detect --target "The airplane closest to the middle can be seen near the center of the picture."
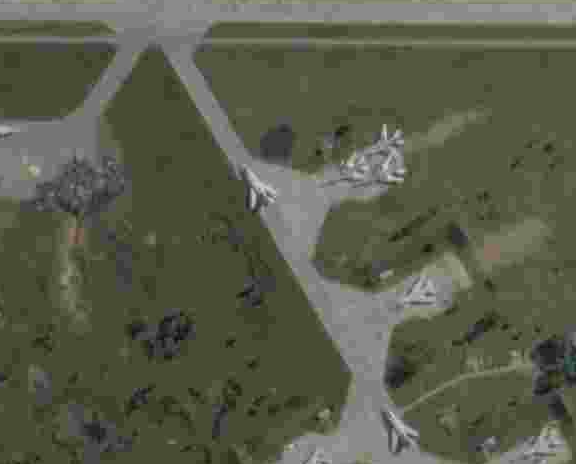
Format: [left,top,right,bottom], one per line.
[244,168,279,213]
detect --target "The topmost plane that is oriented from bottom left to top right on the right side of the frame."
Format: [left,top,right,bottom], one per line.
[357,126,403,160]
